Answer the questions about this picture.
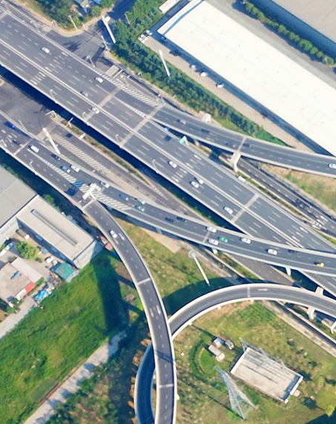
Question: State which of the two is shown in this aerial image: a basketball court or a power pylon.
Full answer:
Looking from above, you can make out a power pylon.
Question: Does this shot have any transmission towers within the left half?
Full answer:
No, I can find no transmission tower within the left half.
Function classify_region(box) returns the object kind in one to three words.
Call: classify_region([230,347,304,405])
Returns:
building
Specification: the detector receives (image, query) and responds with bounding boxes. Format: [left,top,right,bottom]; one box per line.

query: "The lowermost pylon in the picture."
[213,364,257,423]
